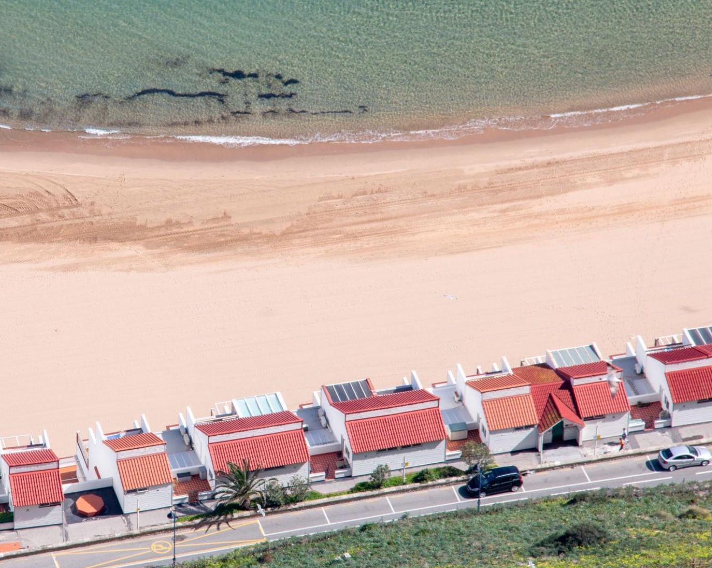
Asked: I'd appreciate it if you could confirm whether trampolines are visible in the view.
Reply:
No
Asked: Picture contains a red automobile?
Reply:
No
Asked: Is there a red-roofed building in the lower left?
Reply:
Yes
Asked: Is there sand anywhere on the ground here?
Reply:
Yes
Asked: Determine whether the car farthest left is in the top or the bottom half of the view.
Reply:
bottom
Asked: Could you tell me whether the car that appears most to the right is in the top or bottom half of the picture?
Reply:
bottom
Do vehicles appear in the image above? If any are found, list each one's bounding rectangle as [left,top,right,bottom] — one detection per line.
[659,445,712,471]
[471,464,523,497]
